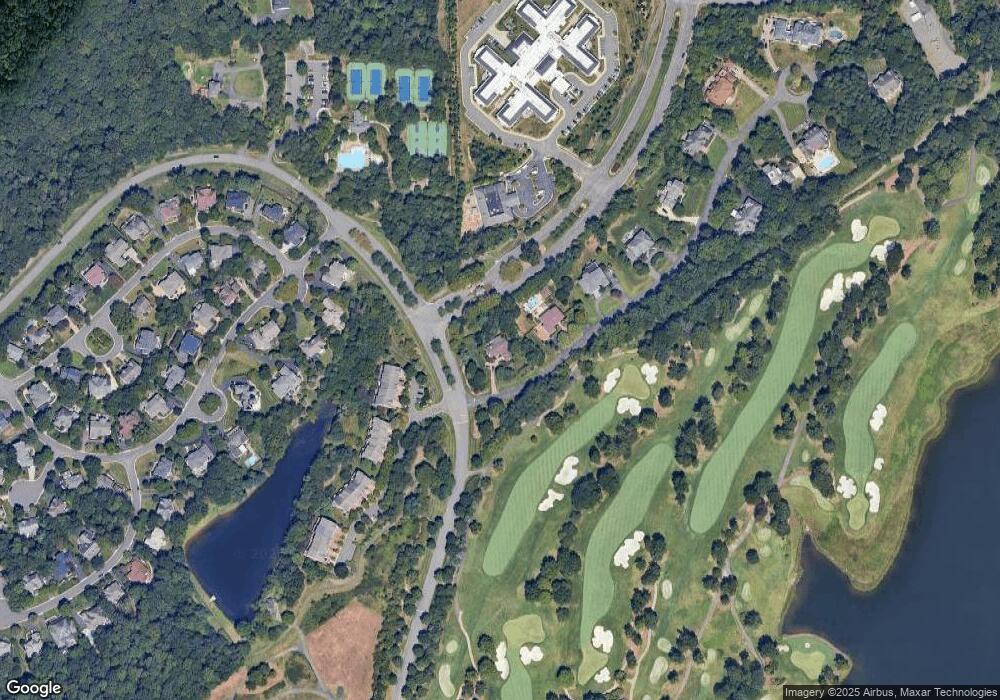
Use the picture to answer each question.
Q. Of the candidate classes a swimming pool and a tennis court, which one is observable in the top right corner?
swimming pool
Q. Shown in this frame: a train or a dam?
dam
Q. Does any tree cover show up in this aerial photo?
Yes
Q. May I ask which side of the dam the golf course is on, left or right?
to the right of it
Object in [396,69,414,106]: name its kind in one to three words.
tennis court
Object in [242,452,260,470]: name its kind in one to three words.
swimming pool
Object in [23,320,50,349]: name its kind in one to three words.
house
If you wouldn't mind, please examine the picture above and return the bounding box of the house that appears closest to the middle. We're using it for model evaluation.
[485,334,510,360]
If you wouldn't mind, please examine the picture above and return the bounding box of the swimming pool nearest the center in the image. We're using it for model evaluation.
[524,294,548,316]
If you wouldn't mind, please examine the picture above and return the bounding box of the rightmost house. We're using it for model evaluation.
[870,68,905,98]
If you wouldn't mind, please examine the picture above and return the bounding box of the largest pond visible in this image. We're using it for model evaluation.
[187,404,335,619]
